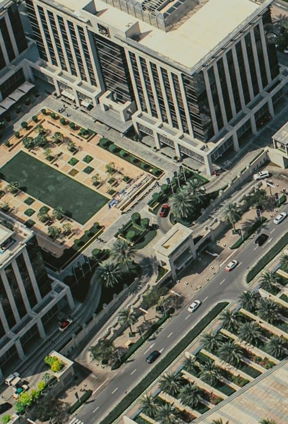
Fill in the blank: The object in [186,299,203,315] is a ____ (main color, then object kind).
white car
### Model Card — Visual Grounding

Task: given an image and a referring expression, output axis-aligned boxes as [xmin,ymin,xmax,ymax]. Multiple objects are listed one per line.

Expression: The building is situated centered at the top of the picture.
[26,0,288,176]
